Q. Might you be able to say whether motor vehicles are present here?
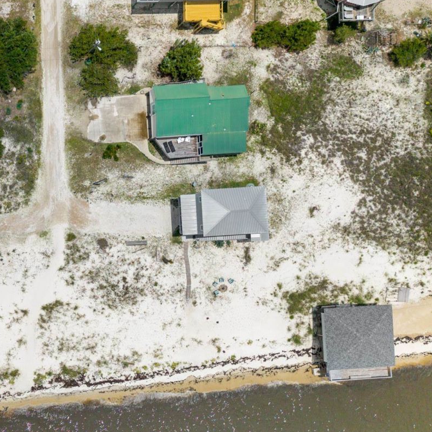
No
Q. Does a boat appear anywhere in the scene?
No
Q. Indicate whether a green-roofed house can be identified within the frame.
Yes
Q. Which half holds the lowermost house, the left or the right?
right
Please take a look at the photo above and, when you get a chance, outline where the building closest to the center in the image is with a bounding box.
[172,186,269,242]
